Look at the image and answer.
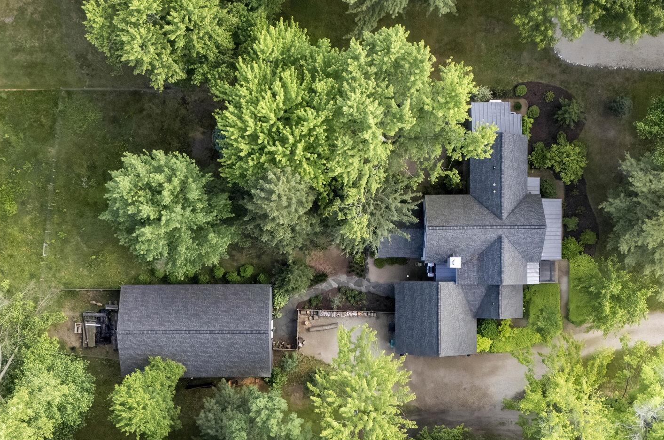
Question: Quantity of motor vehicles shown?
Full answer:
The picture shows no motor vehicles.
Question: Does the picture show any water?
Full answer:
No, the picture contains no water.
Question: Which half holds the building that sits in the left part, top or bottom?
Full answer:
It is in the bottom half that the building that sits in the left part appears.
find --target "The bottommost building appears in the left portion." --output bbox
[117,284,273,378]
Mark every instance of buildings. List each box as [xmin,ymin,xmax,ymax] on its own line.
[378,102,562,358]
[117,284,273,378]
